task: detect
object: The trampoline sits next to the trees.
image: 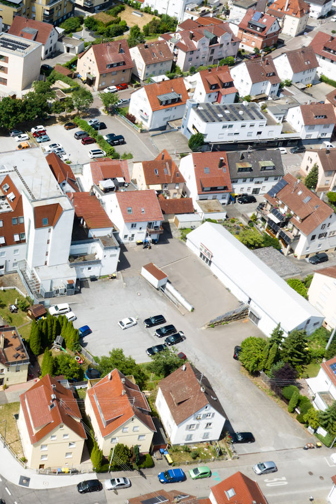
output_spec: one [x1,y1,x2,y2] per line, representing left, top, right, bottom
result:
[83,361,103,380]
